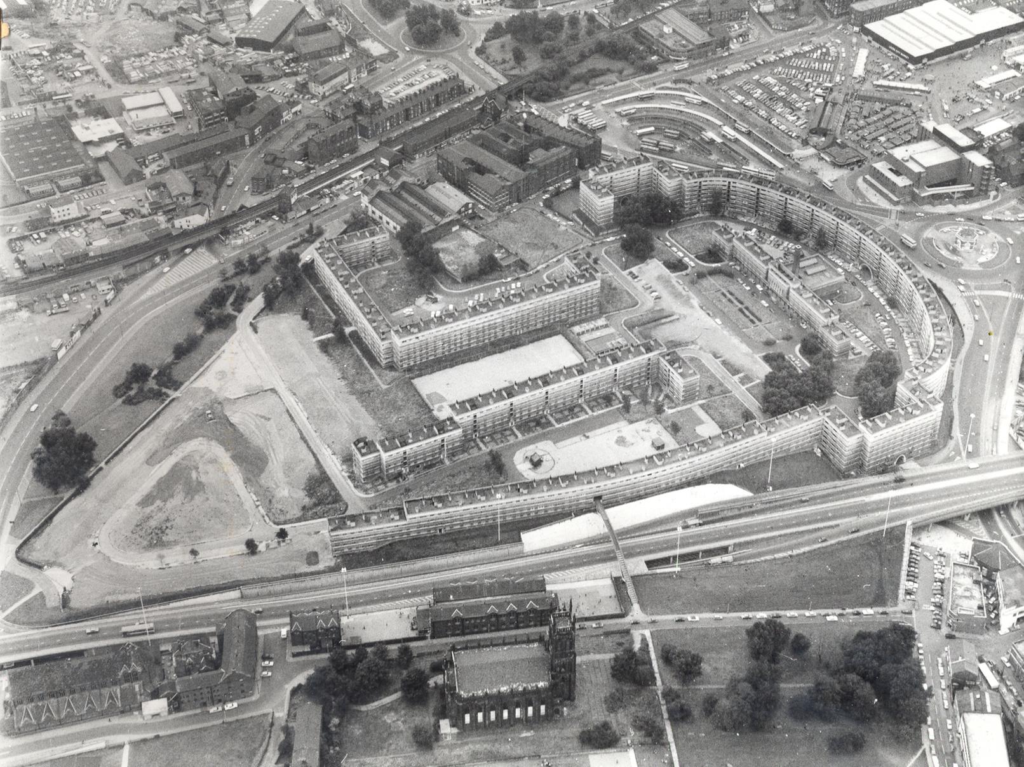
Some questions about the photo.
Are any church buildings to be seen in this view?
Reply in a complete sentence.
Yes, I can see a church building in this picture.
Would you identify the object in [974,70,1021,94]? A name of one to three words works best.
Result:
shed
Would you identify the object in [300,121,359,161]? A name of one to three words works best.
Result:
building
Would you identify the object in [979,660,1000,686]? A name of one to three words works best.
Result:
truck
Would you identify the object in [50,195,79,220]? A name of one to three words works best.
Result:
house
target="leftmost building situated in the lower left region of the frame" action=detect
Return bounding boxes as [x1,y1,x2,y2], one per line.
[9,636,147,728]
